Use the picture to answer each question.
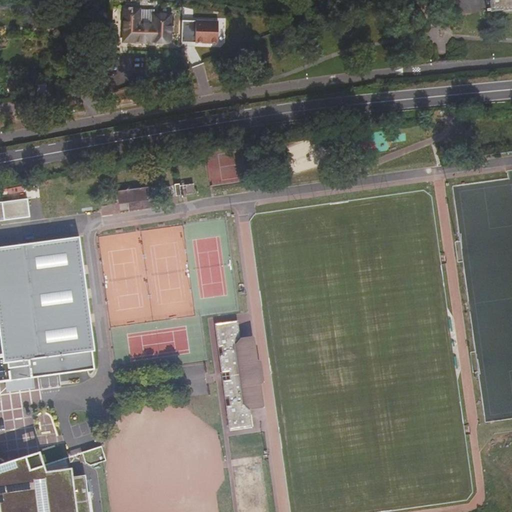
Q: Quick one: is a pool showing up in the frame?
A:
No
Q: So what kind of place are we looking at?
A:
sports ground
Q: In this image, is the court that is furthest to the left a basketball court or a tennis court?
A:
tennis court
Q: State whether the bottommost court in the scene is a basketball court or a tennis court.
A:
tennis court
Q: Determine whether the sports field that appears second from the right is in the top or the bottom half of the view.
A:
bottom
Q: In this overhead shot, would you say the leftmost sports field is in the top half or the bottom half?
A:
bottom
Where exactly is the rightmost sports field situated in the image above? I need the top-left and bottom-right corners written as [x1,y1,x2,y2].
[452,170,512,424]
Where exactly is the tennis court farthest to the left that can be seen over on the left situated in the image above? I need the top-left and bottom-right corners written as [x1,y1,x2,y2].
[100,232,152,326]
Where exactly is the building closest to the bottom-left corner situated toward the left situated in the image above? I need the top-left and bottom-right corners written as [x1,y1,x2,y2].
[0,450,96,512]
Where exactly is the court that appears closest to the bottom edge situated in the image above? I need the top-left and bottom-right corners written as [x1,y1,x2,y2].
[111,315,208,371]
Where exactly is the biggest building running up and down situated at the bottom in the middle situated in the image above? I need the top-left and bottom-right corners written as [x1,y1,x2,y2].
[215,320,254,431]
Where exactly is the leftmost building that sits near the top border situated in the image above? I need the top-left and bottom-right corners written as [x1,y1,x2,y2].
[122,5,172,44]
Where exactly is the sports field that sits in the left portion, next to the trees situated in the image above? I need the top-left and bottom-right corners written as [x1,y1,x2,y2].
[106,404,224,512]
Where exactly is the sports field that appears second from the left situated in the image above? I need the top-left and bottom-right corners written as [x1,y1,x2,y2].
[252,191,471,512]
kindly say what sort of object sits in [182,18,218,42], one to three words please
house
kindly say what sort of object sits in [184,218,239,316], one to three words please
tennis court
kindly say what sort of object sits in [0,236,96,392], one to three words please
building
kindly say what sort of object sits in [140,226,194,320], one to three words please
tennis court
